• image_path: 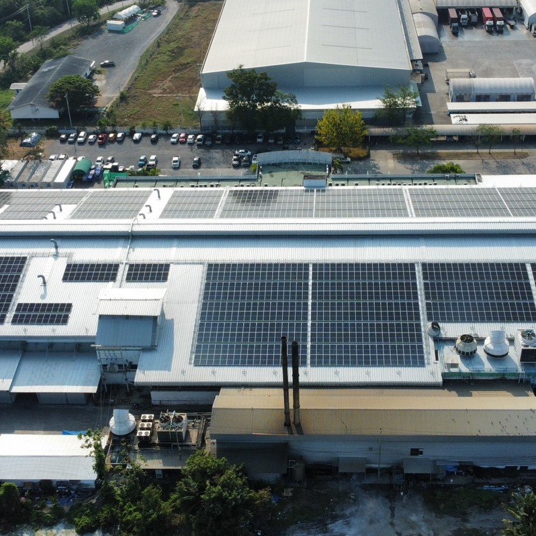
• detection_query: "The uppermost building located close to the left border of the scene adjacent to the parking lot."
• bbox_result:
[11,54,94,123]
